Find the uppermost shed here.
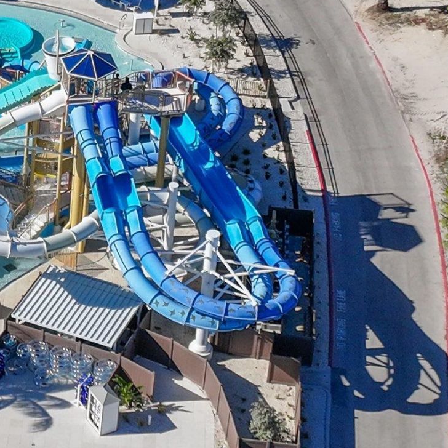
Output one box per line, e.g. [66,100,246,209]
[10,263,143,378]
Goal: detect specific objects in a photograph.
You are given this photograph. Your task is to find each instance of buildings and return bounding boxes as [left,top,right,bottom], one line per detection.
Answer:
[10,263,143,378]
[87,381,121,436]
